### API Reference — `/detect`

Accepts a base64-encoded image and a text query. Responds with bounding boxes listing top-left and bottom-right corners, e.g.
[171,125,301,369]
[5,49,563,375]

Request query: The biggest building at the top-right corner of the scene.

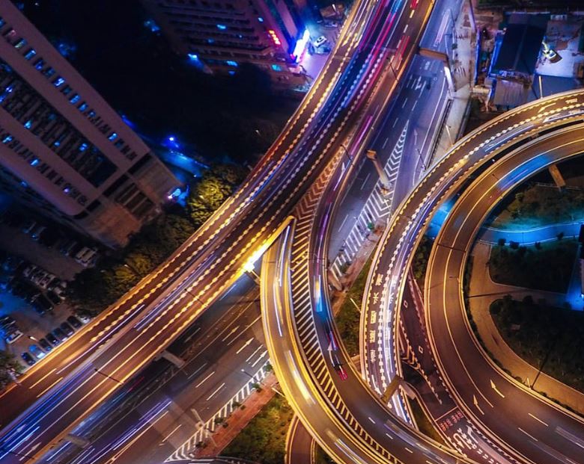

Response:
[495,14,549,93]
